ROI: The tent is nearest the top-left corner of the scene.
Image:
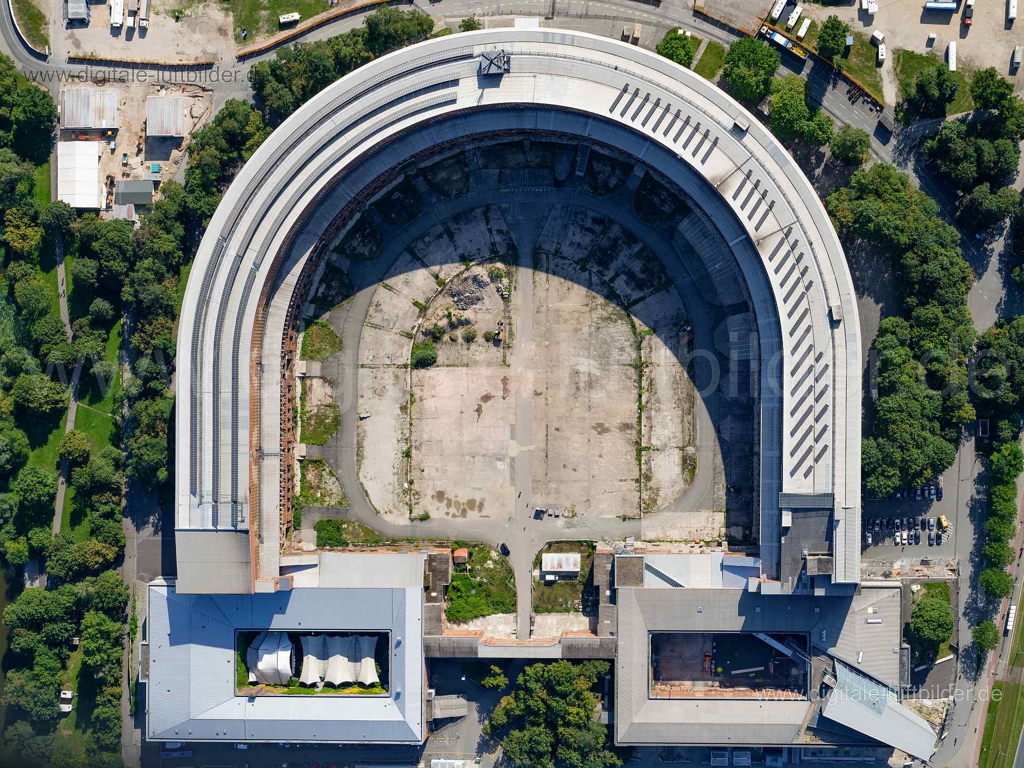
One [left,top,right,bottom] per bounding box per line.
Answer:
[57,140,102,209]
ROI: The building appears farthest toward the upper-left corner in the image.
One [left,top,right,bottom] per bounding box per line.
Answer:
[61,88,122,130]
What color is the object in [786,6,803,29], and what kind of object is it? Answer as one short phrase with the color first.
white camper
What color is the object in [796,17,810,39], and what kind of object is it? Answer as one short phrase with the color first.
white camper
